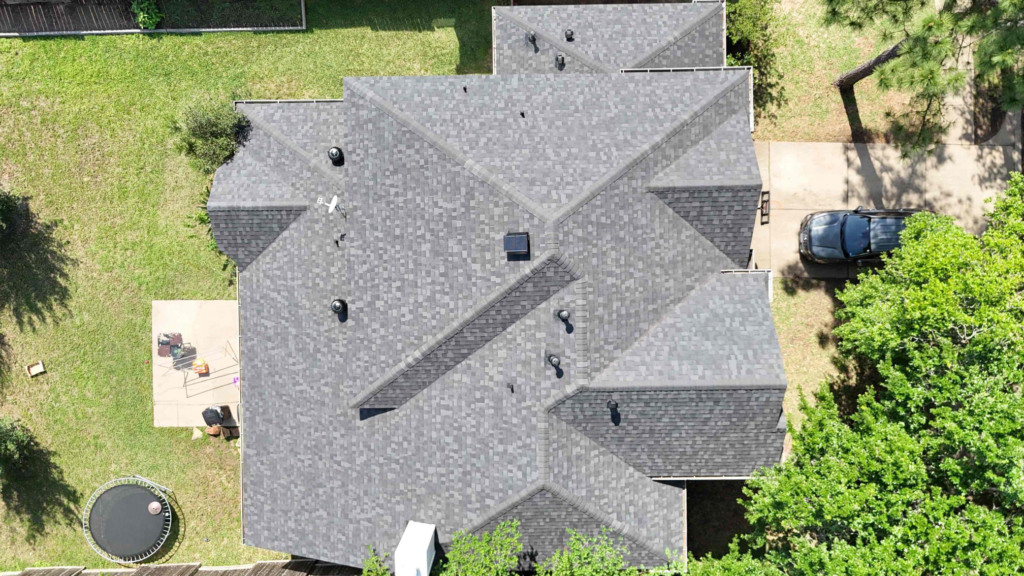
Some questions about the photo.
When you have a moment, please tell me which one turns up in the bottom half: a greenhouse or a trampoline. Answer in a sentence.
Visible in the bottom half is a trampoline.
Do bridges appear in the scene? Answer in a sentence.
No, I find no bridge anywhere in the image.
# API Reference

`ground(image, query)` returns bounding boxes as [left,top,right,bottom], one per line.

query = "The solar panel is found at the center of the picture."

[503,234,528,253]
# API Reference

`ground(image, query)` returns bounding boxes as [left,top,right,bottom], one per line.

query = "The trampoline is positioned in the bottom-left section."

[83,475,176,564]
